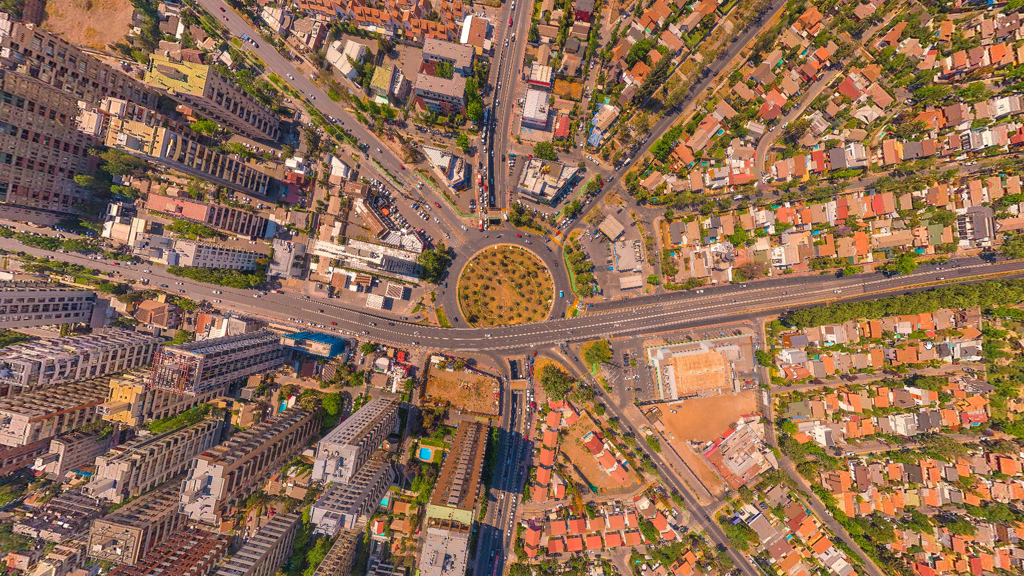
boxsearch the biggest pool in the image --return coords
[414,443,435,465]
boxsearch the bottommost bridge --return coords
[252,252,1024,350]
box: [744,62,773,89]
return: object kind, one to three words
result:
house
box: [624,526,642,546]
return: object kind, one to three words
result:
house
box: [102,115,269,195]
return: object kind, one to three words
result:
building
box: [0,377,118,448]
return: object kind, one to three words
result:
building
